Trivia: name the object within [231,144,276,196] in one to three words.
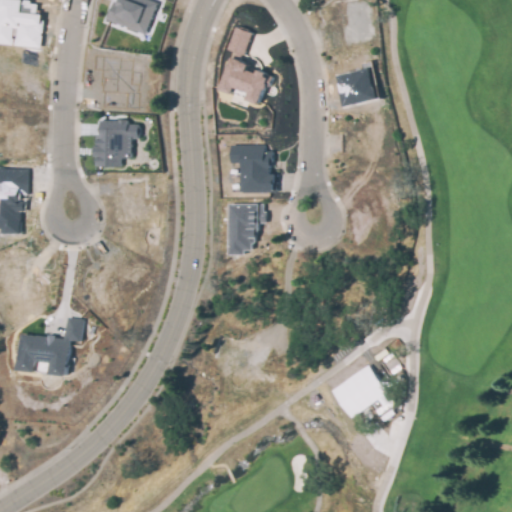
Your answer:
house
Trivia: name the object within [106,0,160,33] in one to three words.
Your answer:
house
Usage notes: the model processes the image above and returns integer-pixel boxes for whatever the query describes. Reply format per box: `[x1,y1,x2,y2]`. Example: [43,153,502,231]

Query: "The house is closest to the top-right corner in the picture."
[336,64,384,110]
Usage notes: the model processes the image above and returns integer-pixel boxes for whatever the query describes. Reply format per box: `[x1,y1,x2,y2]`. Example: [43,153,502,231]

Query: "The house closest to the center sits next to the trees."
[228,204,267,256]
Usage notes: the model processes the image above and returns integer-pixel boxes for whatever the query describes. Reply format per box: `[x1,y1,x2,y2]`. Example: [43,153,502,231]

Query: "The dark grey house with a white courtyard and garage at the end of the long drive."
[15,318,86,375]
